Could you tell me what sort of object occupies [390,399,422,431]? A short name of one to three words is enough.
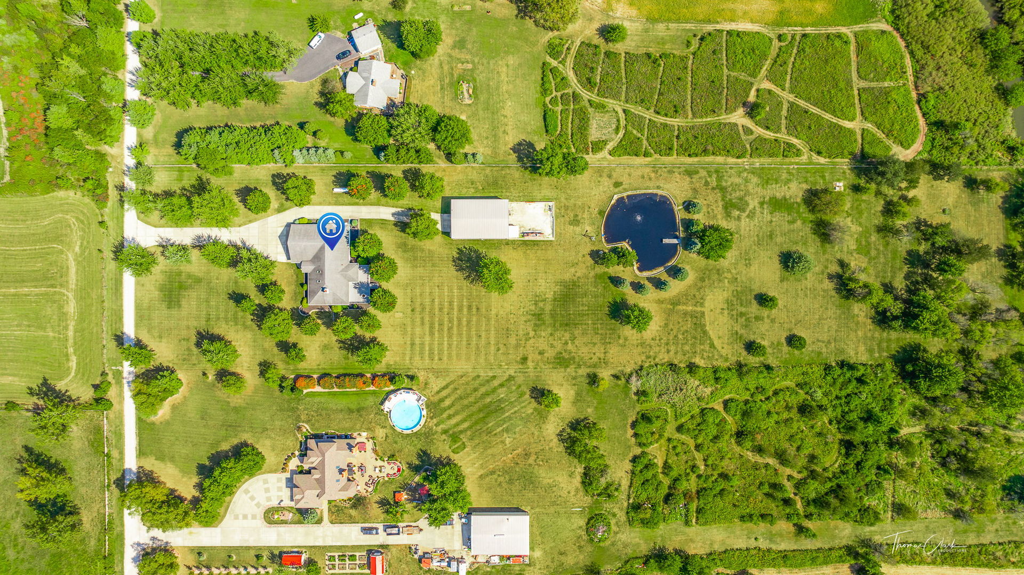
swimming pool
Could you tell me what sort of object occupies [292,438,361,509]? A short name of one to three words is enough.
house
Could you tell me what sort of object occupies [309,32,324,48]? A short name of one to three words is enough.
vehicle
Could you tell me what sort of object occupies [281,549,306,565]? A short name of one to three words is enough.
barn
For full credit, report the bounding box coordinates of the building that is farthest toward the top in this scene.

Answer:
[351,23,382,55]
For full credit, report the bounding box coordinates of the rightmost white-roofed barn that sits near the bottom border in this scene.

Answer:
[471,512,529,555]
